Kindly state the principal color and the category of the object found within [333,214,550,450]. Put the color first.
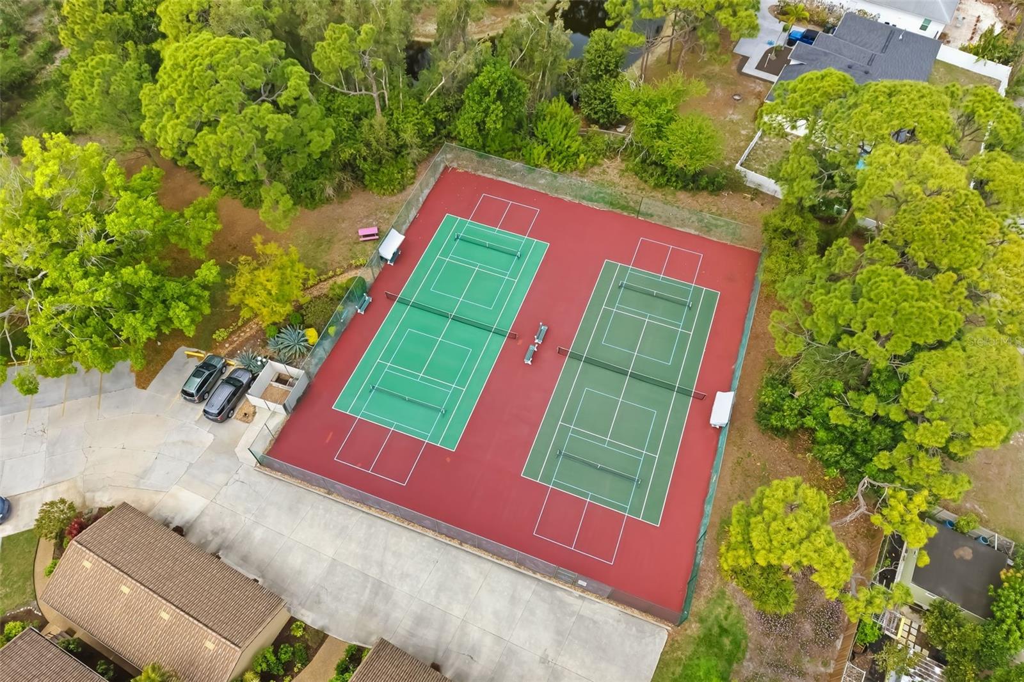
green tennis court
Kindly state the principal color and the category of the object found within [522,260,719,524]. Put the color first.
green tennis court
